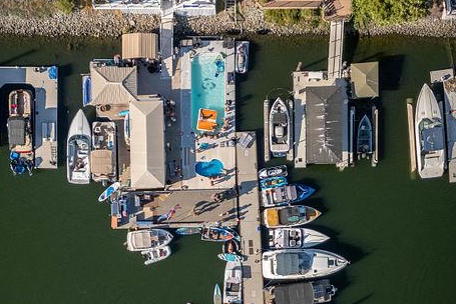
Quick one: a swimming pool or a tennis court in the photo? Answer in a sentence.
There is a swimming pool in the scene.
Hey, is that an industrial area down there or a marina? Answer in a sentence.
The area seen from above is a marina.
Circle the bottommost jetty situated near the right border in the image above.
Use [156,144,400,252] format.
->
[443,82,456,182]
